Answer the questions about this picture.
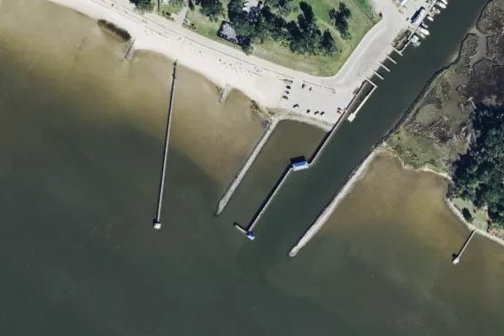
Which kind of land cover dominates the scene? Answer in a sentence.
The scene is dominated by water.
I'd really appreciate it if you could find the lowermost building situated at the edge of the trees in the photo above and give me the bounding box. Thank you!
[217,19,240,43]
